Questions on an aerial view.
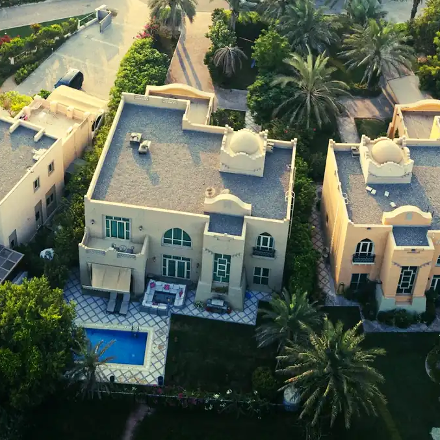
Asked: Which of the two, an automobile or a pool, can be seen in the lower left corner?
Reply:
pool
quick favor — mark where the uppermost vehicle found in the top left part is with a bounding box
[46,62,91,88]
